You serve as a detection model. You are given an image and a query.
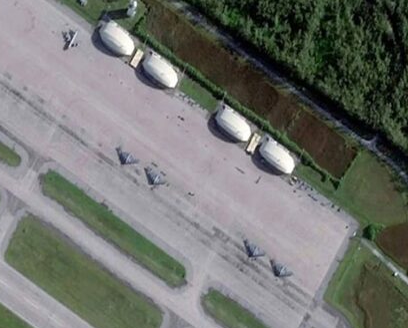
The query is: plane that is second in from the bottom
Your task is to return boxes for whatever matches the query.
[244,240,266,255]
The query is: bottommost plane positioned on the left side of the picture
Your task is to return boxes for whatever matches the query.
[145,167,168,182]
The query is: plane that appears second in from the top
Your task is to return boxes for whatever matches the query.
[116,147,141,161]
